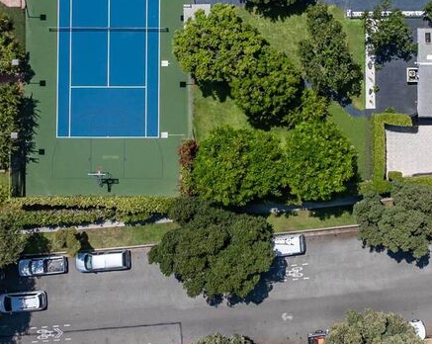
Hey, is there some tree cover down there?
Yes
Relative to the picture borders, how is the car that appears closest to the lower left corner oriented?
horizontally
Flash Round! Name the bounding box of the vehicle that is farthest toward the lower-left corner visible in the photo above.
[1,289,50,314]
